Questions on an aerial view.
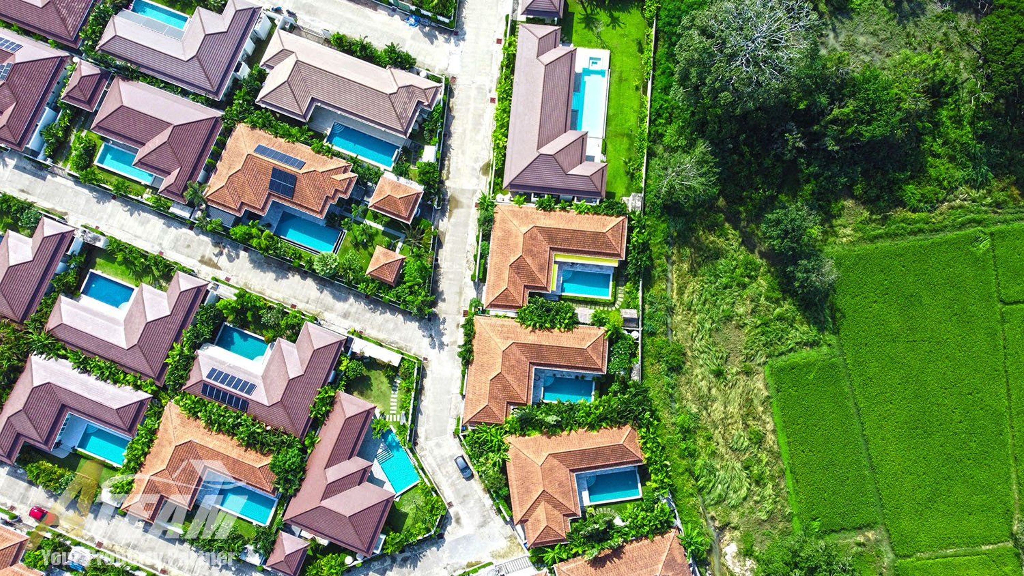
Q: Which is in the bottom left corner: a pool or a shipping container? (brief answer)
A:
pool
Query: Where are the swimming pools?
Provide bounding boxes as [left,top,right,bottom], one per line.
[583,467,643,506]
[127,0,191,31]
[377,426,418,496]
[74,420,135,467]
[558,267,614,300]
[323,118,404,171]
[209,478,277,528]
[574,65,612,140]
[273,208,348,255]
[93,140,157,188]
[588,55,602,64]
[79,268,138,312]
[212,321,273,363]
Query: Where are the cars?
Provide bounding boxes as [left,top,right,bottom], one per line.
[454,454,474,481]
[30,505,60,524]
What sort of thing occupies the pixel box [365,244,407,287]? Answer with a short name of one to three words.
building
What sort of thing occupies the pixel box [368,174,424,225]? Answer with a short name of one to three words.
building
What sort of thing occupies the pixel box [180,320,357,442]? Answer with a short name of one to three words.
house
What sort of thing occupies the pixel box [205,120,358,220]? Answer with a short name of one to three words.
house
